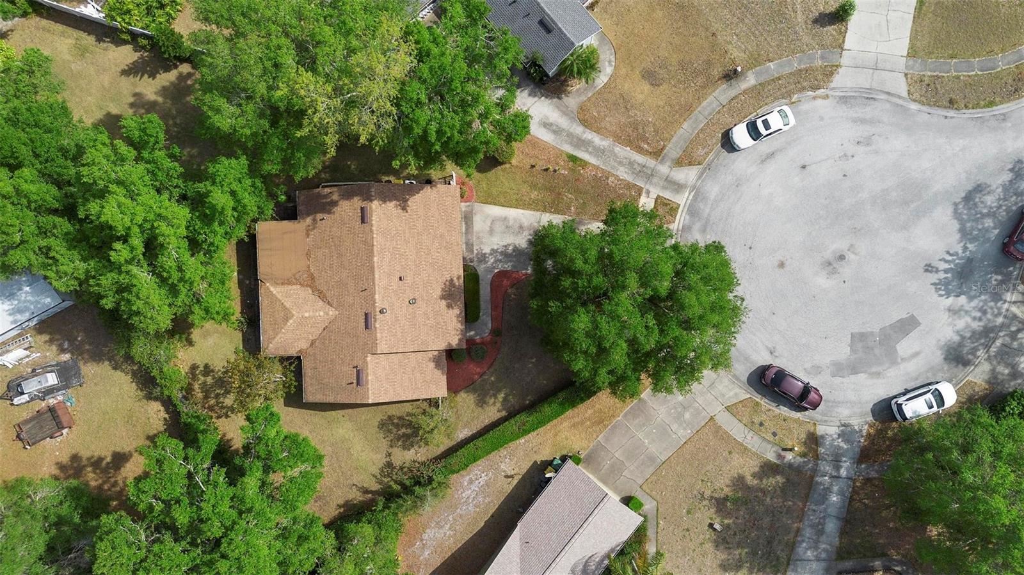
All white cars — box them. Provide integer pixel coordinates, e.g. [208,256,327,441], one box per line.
[729,106,796,152]
[890,381,955,423]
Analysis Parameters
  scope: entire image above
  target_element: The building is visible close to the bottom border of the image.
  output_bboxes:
[466,458,645,575]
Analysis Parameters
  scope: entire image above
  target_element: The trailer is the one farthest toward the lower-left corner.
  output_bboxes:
[9,401,74,447]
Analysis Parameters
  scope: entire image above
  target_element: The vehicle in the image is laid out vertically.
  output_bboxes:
[1000,204,1024,260]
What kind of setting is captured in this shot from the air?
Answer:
residential area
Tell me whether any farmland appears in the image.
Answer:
No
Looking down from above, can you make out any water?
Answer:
No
